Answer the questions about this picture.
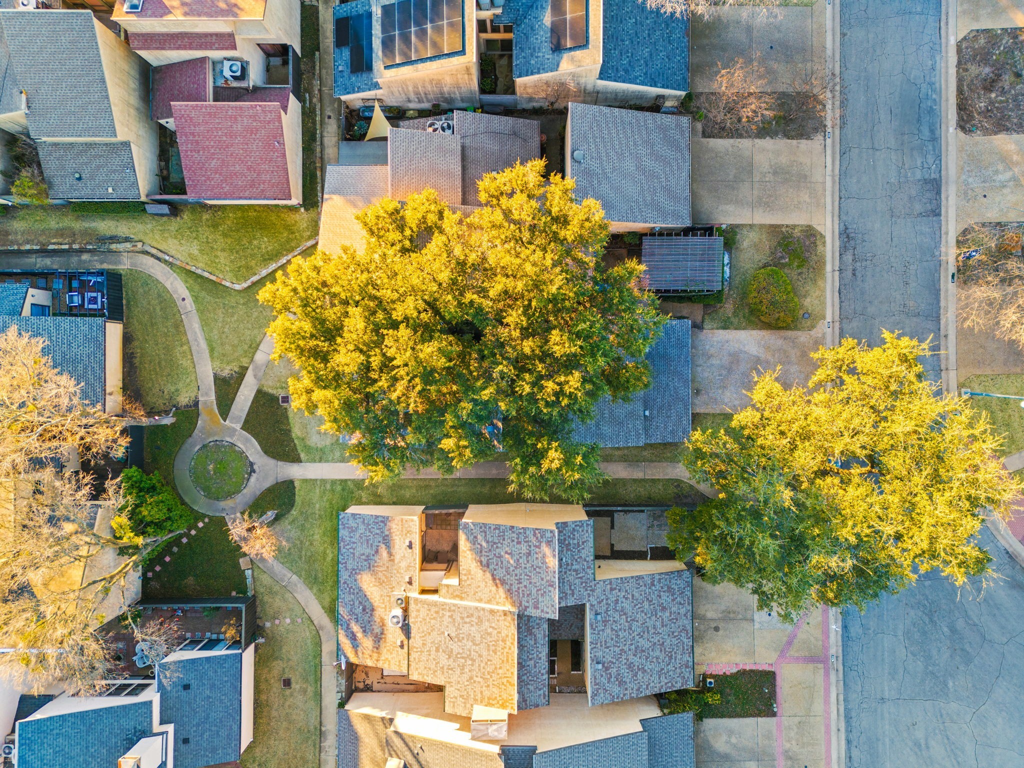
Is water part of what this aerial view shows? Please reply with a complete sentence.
No, no water is visible.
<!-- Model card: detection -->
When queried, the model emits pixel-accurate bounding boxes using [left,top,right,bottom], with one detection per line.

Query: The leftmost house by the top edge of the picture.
[0,0,159,206]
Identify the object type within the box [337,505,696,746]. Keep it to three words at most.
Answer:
house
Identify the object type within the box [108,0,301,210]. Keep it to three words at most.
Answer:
house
